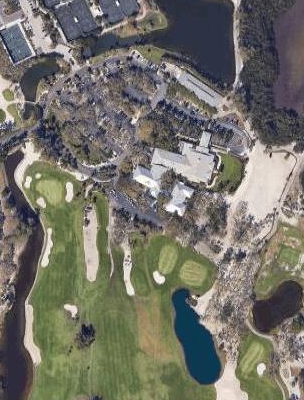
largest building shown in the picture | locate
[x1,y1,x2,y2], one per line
[149,140,215,183]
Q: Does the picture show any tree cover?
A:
Yes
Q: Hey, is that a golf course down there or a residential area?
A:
golf course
